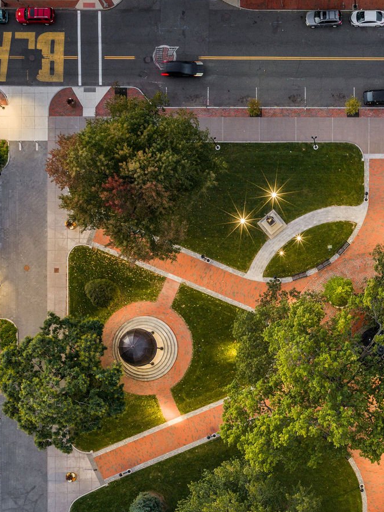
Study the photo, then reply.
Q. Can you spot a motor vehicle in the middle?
No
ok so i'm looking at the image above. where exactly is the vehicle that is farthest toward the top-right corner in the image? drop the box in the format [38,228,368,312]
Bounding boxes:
[351,6,384,25]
